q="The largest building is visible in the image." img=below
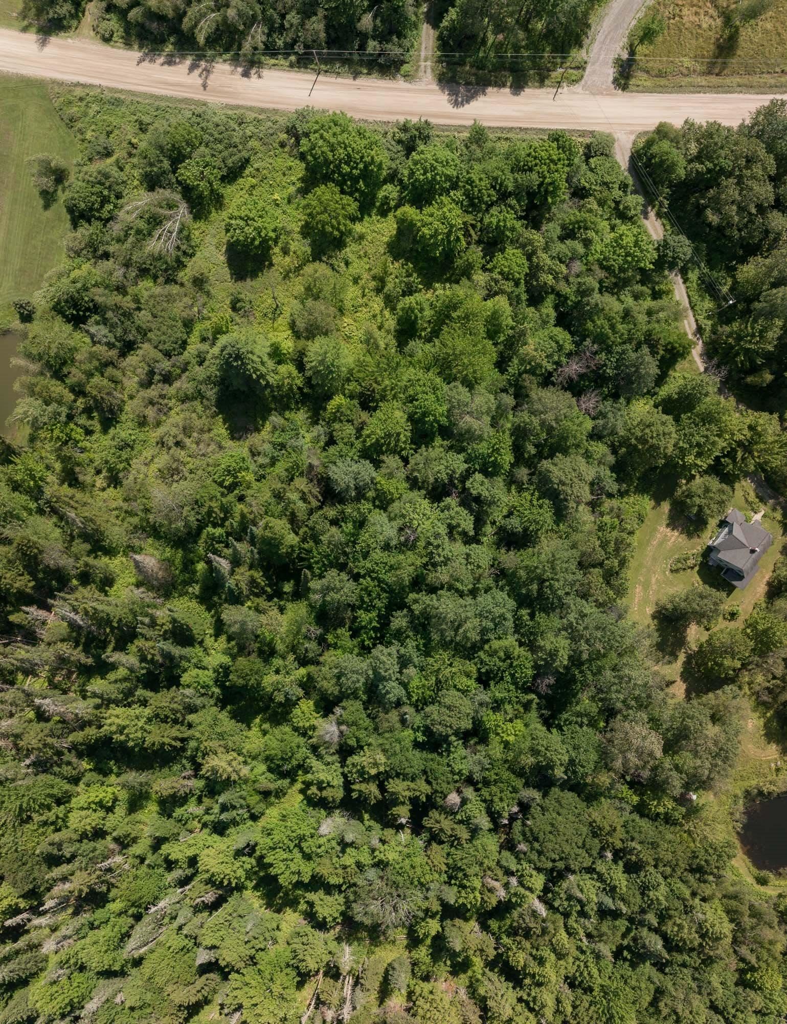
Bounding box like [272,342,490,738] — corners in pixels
[706,509,777,593]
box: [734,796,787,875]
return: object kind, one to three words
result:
pond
